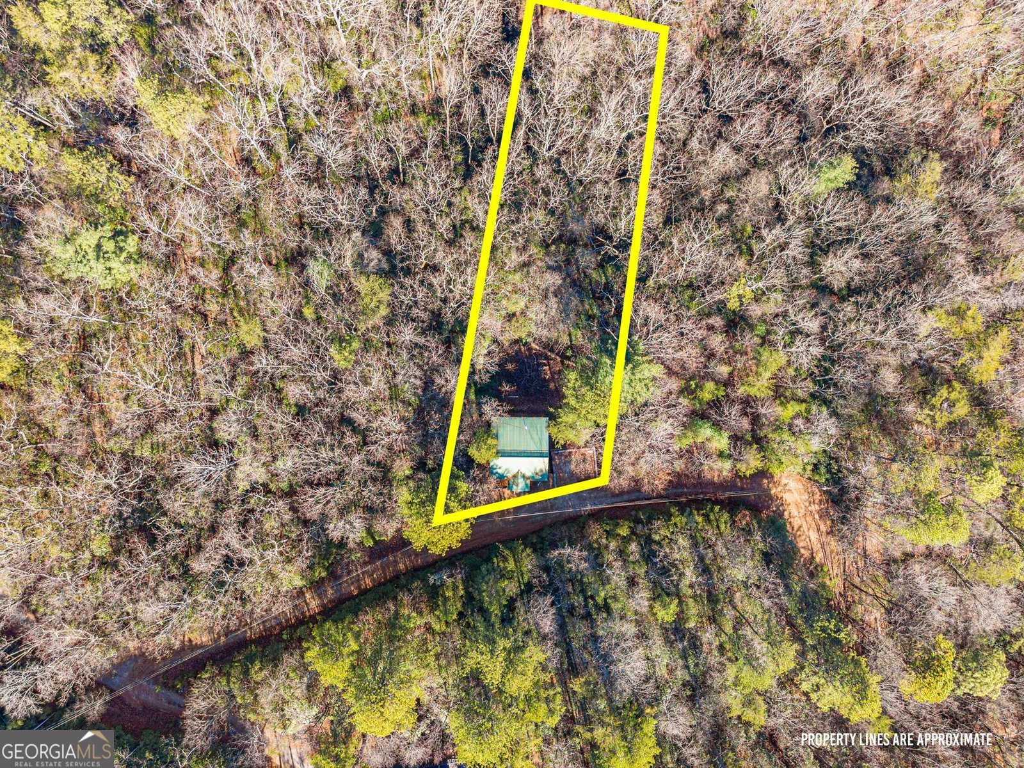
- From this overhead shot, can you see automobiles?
No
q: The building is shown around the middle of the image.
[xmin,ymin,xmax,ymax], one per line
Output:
[490,417,550,498]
